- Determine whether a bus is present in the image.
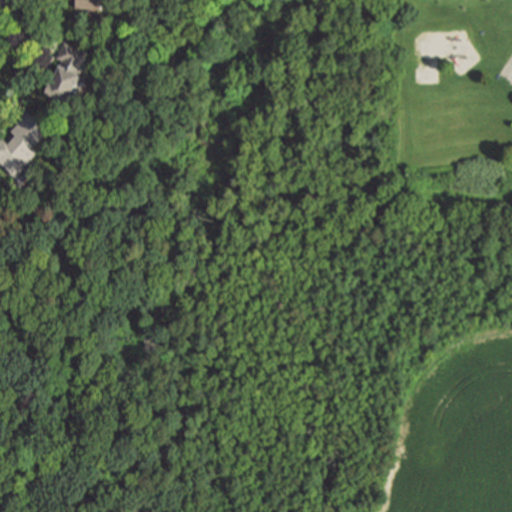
No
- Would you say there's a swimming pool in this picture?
No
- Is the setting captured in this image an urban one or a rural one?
rural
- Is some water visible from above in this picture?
No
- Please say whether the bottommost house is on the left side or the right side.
left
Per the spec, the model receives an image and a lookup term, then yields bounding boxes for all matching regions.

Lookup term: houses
[44,38,81,98]
[74,0,103,14]
[0,122,42,180]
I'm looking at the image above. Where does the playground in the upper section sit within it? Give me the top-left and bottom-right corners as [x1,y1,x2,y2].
[415,29,481,84]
